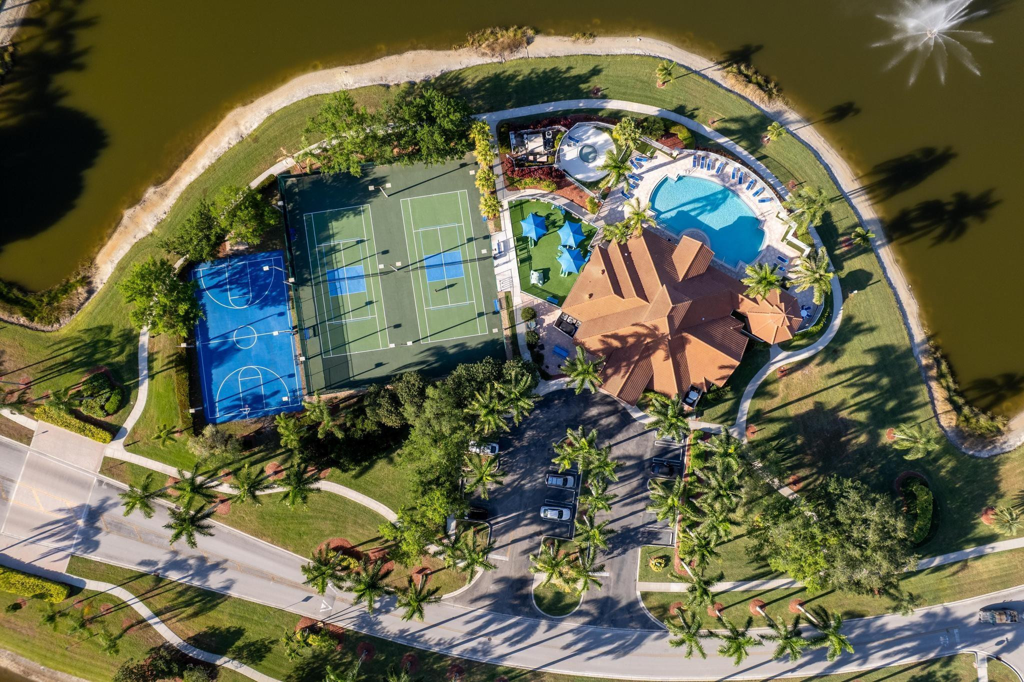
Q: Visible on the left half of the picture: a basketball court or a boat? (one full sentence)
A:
The feature located on the left half of the picture is a basketball court.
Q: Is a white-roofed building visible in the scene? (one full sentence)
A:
No, there appears to be no white-roofed building in this shot.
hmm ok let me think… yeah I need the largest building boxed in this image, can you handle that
[561,225,763,406]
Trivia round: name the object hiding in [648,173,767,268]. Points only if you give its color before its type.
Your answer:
blue swimming pool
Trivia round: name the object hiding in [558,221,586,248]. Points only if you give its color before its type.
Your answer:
blue umbrella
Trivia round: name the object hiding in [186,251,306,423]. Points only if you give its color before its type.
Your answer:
blue basketball court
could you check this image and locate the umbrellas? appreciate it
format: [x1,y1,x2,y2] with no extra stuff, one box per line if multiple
[558,221,586,248]
[520,213,548,241]
[557,247,586,274]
